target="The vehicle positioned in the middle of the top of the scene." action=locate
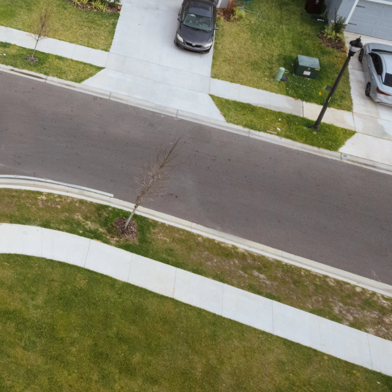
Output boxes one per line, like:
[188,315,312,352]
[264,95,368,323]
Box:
[177,0,228,49]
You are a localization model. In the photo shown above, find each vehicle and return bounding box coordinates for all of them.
[358,40,392,105]
[177,0,228,49]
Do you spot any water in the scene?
No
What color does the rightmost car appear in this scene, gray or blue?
gray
